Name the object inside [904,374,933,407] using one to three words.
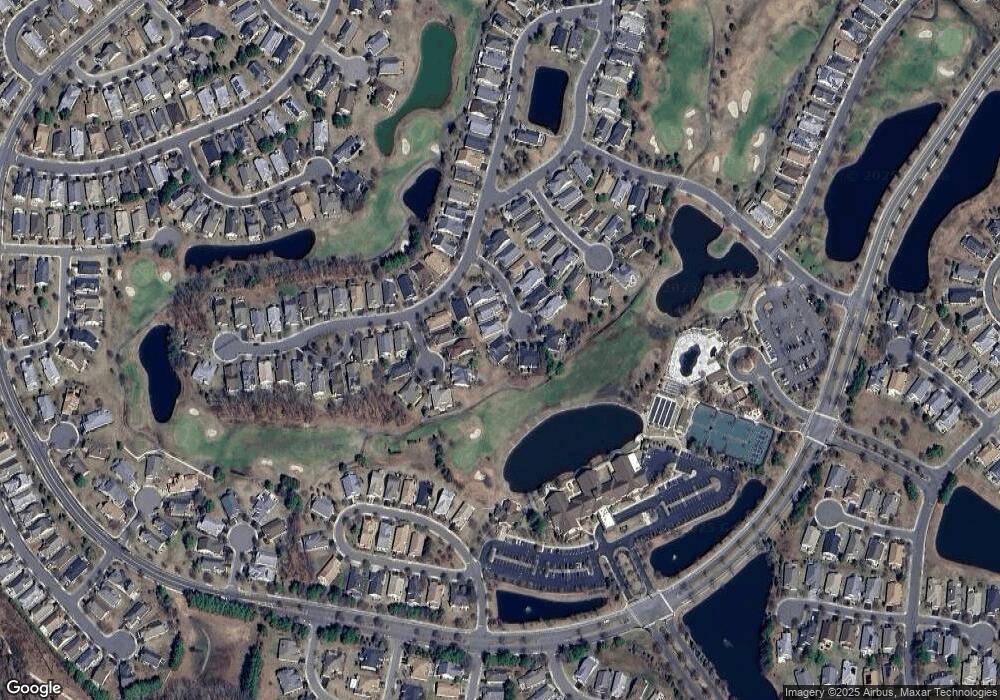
house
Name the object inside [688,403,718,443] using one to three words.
tennis court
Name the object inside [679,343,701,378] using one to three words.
swimming pool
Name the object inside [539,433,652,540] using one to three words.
building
